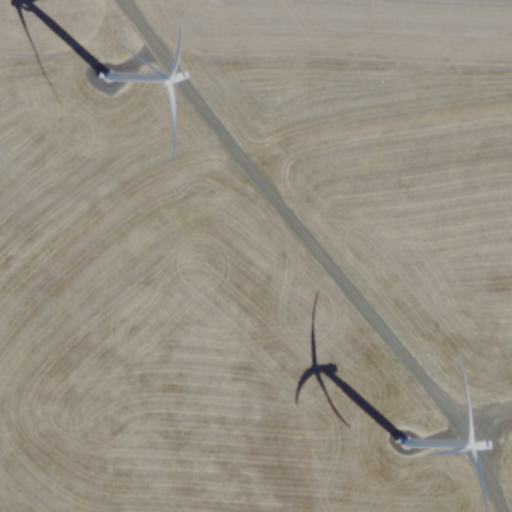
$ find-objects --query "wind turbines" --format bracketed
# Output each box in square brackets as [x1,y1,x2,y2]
[400,356,491,512]
[102,21,190,159]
